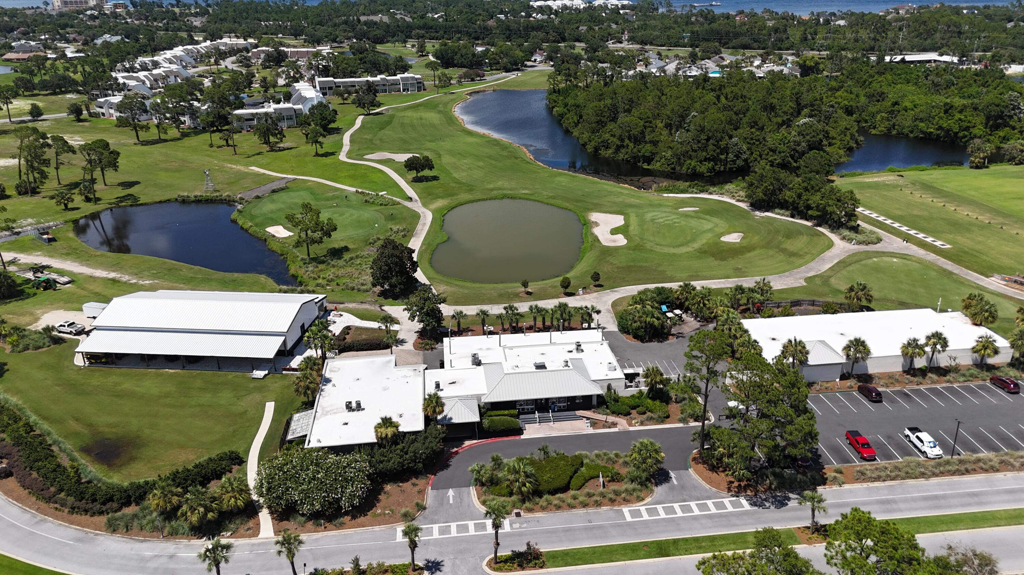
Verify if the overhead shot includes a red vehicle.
Yes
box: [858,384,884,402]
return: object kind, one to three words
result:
car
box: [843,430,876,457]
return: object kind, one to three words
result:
truck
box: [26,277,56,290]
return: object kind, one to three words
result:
vehicle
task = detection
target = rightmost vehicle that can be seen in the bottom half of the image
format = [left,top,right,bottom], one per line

[990,375,1020,392]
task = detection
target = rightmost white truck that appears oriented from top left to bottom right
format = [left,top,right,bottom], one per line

[906,429,942,456]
